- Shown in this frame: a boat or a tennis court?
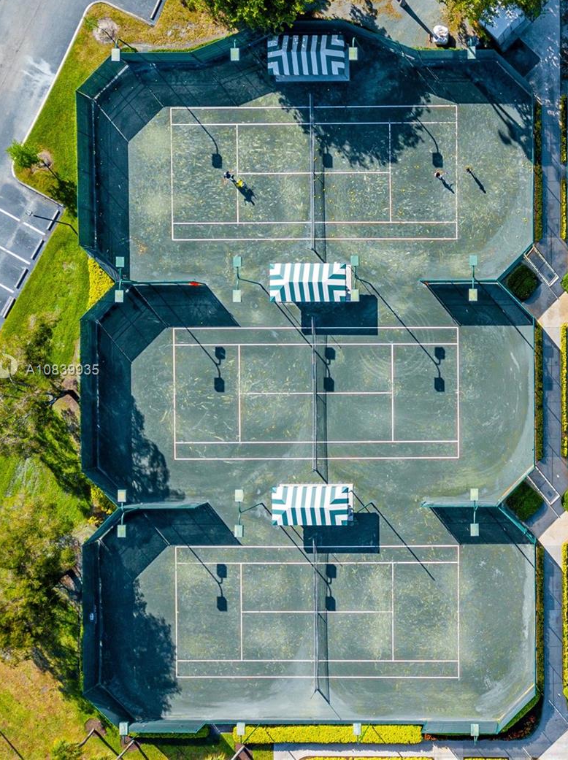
tennis court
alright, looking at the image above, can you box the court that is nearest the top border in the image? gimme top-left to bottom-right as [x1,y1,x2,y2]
[96,34,534,288]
